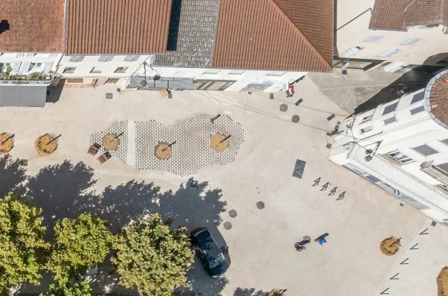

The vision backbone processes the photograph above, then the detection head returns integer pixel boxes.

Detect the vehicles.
[87,248,114,296]
[190,221,232,282]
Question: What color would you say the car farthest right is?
black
